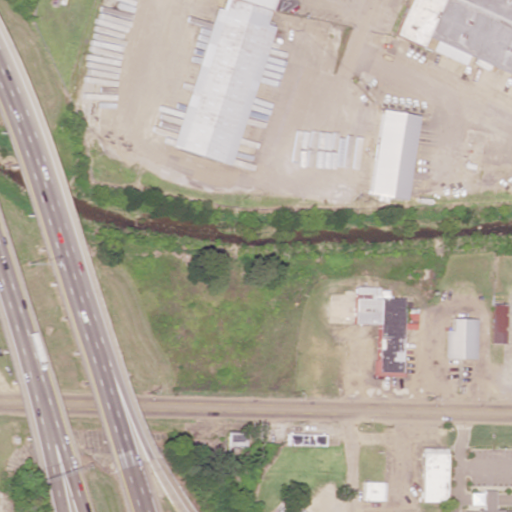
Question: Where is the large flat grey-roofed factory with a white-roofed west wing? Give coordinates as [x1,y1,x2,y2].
[398,0,512,75]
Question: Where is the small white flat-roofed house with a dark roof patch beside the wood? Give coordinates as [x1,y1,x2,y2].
[226,432,250,452]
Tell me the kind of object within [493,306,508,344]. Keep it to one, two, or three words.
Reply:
barn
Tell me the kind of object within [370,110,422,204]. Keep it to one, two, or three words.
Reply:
shed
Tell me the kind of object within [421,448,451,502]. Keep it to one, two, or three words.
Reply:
building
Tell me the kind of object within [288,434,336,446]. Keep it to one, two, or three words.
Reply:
building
